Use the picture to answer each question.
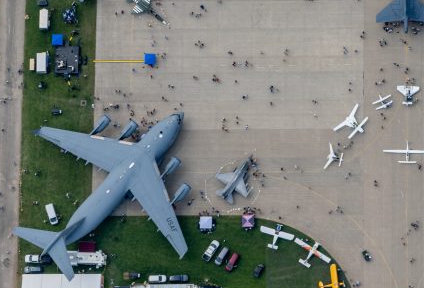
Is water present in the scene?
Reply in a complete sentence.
No, the scene doesn't show any water.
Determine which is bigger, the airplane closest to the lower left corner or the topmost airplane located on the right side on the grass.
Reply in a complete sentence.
Of the two, the airplane closest to the lower left corner is bigger, while the topmost airplane located on the right side on the grass is smaller.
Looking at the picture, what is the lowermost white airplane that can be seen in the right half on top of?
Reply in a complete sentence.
In this view, the lowermost white airplane that can be seen in the right half is located on the grass.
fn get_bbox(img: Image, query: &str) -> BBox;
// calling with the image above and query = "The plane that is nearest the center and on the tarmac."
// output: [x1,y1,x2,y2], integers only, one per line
[212,154,252,208]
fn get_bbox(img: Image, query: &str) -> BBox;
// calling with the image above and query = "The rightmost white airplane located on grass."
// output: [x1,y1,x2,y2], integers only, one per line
[294,238,331,269]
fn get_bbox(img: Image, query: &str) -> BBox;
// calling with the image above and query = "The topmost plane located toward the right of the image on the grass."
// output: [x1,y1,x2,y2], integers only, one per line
[259,224,294,251]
